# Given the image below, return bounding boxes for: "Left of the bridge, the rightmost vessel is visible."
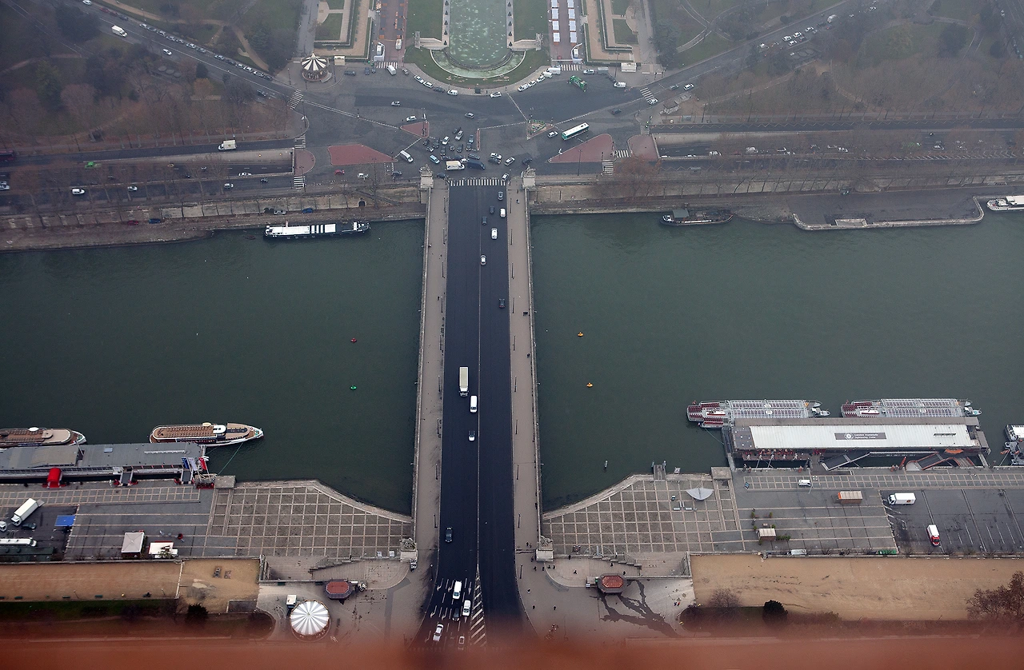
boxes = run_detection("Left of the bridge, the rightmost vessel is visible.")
[262,220,371,242]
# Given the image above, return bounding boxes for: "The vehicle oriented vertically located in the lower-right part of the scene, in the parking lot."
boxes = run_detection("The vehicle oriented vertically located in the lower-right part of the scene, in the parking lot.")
[926,517,945,549]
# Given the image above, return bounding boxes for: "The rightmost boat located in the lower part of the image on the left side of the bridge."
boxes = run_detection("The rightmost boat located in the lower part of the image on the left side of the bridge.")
[149,420,265,449]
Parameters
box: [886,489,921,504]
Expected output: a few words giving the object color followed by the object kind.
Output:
white vehicle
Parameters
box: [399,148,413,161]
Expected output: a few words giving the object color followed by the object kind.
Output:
white vehicle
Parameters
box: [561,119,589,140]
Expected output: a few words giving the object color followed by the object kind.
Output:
white bus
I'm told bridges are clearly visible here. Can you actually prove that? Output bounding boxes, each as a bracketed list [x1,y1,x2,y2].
[409,185,545,625]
